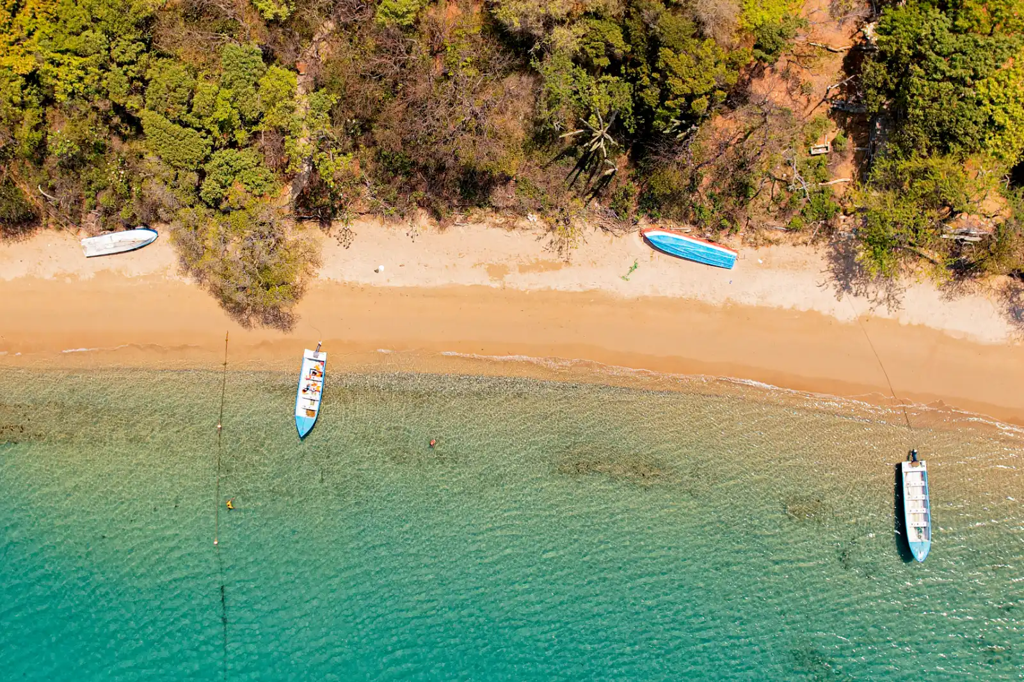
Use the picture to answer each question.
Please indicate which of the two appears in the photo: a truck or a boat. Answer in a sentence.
There is a boat in the scene.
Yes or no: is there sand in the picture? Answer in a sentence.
Yes, sand can be seen from above here.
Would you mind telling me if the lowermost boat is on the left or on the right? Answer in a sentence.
The lowermost boat is on the right side of the image.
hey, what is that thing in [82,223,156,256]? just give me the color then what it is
white boat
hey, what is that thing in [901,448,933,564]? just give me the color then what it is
white boat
